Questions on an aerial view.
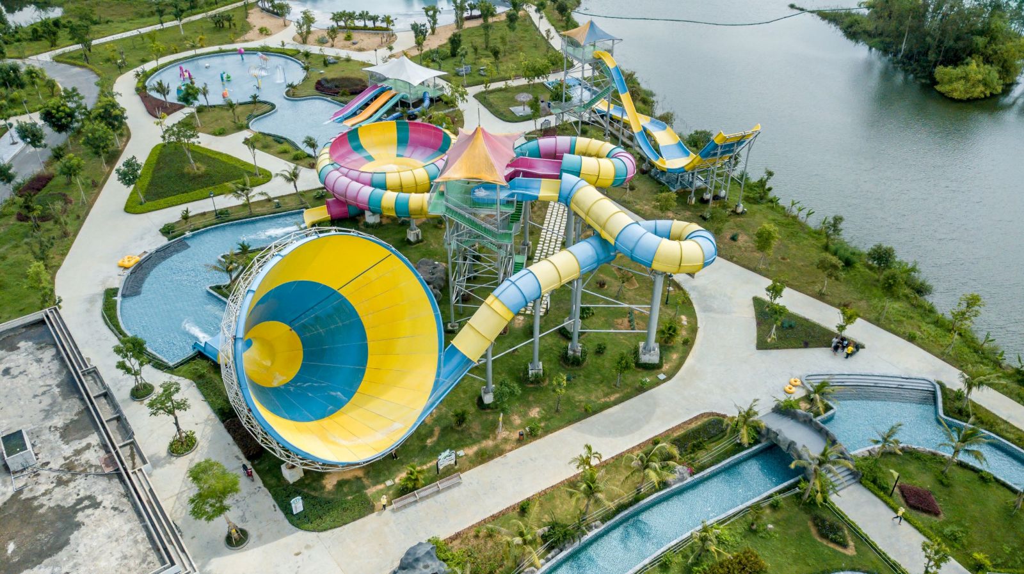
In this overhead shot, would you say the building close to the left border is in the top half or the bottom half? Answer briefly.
bottom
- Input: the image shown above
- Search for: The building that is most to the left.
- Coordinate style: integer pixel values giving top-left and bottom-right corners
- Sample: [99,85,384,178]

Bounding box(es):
[0,304,203,574]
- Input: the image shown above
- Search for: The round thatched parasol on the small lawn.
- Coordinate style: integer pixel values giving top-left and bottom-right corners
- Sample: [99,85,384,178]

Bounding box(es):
[512,92,535,110]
